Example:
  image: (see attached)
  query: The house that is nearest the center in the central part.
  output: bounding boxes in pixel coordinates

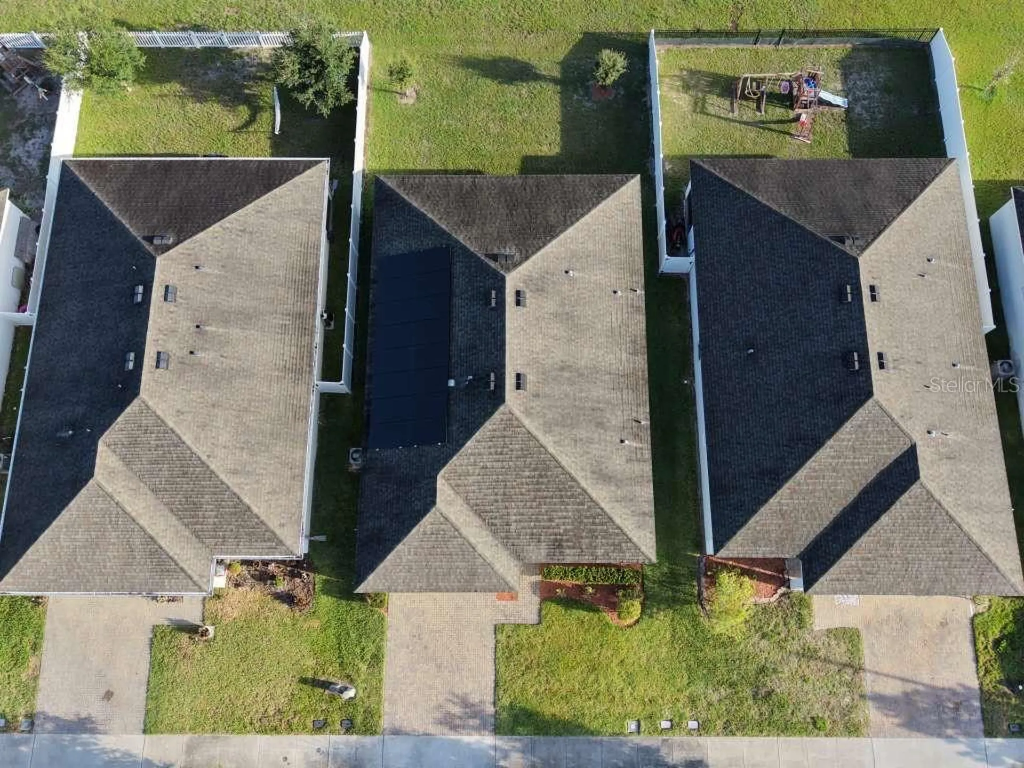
[353,174,657,595]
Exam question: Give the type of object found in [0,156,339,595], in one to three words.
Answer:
house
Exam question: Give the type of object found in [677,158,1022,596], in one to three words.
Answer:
house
